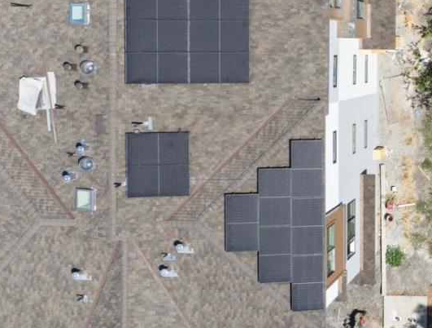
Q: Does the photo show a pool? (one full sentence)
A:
No, the photo shows no pool.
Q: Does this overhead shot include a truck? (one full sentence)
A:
No, I can see no truck in this picture.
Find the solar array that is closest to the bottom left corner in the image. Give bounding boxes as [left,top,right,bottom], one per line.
[126,132,191,197]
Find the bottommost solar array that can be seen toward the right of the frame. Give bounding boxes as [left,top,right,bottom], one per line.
[225,138,325,310]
